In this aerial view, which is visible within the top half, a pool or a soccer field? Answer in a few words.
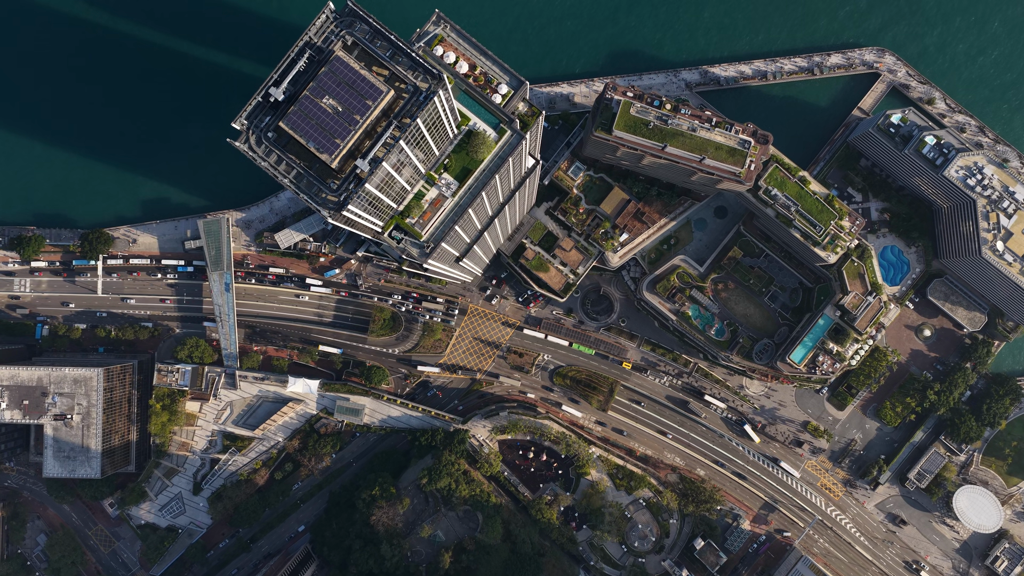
pool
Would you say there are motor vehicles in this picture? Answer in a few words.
Yes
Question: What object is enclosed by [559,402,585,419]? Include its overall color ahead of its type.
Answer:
white vehicle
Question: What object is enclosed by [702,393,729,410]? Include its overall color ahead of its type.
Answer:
white vehicle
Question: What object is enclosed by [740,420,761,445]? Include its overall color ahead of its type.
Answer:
white bus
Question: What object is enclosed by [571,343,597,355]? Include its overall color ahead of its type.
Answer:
green vehicle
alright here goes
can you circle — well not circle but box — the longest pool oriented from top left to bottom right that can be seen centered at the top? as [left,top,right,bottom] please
[449,82,505,133]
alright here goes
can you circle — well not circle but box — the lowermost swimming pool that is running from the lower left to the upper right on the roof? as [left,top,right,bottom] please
[784,311,837,367]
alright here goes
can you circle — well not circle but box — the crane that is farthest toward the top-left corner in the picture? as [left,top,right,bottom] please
[271,51,314,105]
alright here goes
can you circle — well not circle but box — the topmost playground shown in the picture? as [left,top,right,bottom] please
[496,438,576,496]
